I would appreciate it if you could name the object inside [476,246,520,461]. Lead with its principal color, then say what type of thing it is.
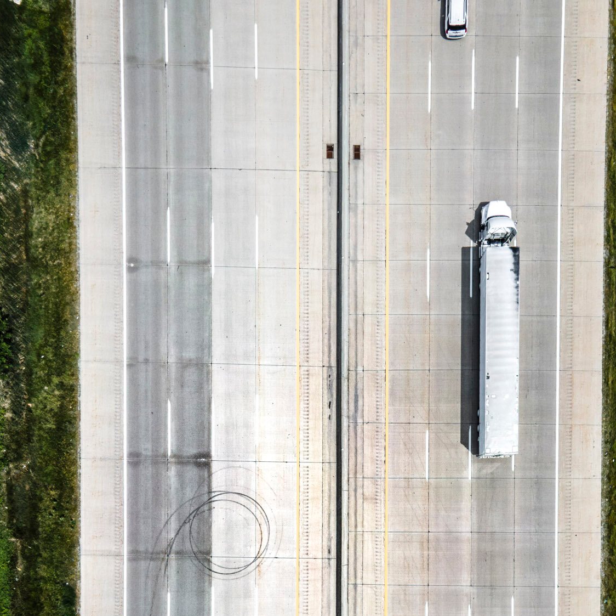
white trailer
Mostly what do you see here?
paved ground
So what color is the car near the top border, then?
white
